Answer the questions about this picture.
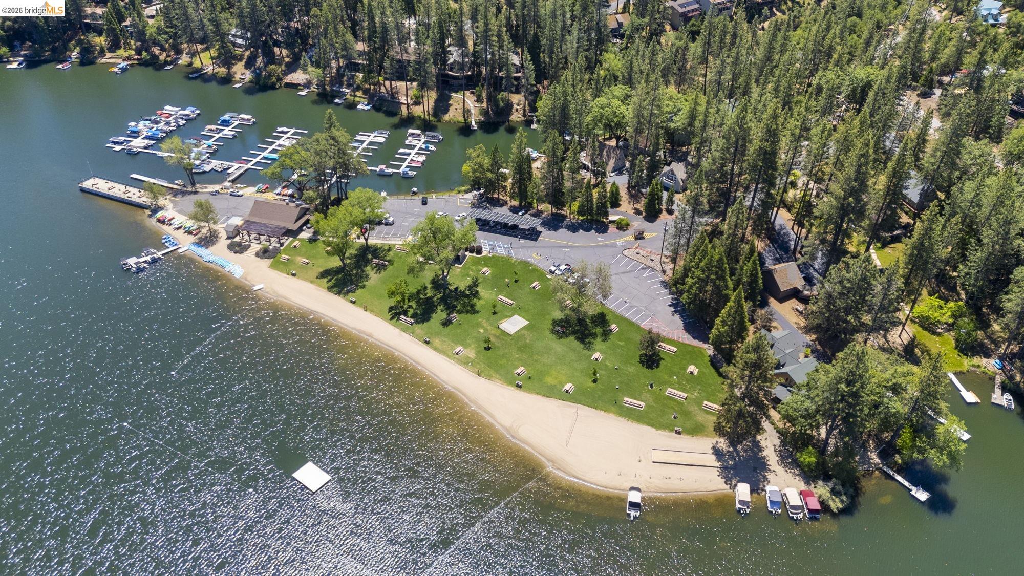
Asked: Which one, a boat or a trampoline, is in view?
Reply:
boat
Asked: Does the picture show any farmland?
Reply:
No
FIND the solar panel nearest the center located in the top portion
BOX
[468,207,542,229]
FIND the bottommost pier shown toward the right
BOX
[880,465,931,502]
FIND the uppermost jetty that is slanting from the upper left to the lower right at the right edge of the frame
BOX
[947,373,980,404]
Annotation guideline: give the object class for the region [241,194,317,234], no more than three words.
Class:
building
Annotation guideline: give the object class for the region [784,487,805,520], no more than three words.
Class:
boat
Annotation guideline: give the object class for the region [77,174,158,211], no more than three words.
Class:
pier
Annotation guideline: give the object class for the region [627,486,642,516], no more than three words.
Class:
boat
